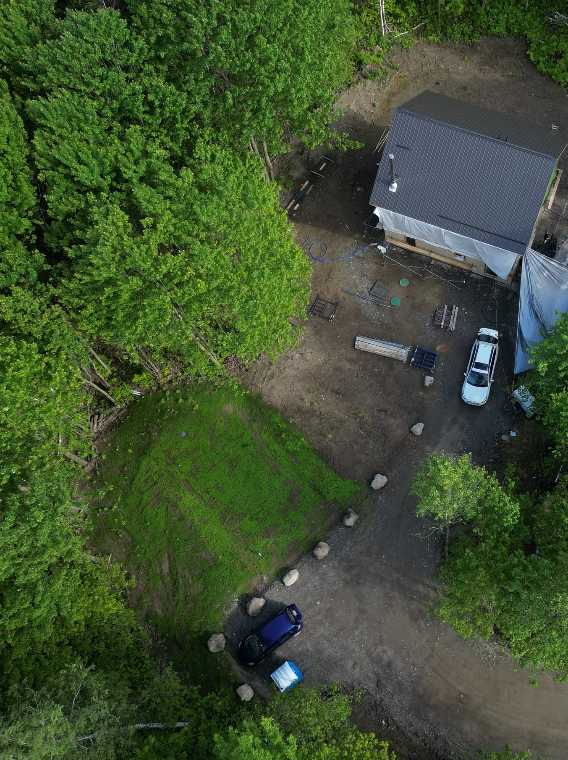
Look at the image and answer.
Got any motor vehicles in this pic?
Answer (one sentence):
Yes, you can see a motor vehicle in this photo.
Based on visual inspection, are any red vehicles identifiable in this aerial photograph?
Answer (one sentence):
No, I find no red vehicle anywhere in the image.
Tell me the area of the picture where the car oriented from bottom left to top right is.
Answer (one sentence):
The car oriented from bottom left to top right sits in the bottom section of the image.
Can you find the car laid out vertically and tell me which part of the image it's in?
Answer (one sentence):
The car laid out vertically appears toward the right of the photo.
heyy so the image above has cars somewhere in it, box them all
[237,610,311,669]
[463,327,501,408]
